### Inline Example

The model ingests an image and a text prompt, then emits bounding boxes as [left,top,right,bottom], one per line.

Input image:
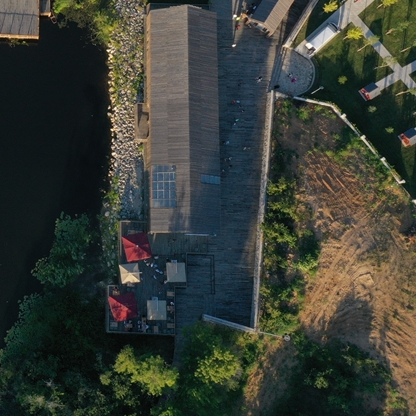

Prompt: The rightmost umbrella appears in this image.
[163,256,186,284]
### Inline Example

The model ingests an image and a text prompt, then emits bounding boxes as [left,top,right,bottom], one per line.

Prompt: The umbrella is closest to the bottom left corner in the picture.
[109,292,141,324]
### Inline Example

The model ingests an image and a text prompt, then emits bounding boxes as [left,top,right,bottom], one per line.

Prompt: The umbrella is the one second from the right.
[145,292,168,321]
